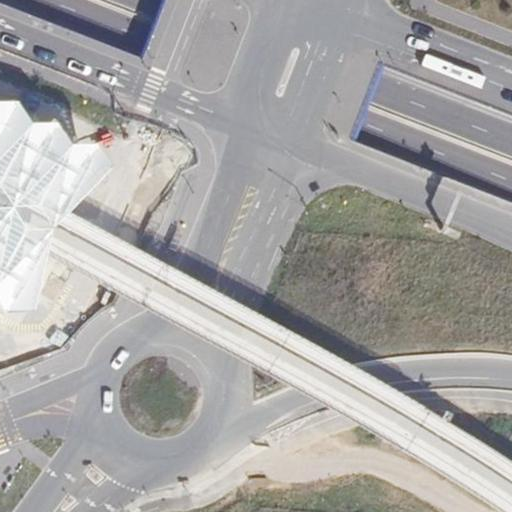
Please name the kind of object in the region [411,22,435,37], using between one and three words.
car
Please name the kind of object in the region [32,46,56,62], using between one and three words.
car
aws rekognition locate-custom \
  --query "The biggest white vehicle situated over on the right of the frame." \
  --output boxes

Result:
[421,52,485,88]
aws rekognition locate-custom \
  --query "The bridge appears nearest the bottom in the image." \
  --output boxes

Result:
[50,211,512,512]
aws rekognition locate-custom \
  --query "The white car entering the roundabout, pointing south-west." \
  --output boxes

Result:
[110,348,130,370]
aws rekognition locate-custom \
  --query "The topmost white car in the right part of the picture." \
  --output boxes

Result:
[407,36,430,51]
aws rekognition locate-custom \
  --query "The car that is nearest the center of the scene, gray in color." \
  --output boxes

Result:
[162,220,177,243]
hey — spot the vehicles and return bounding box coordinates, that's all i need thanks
[407,36,430,51]
[67,59,92,74]
[102,390,113,413]
[96,70,118,86]
[421,52,485,88]
[110,348,130,370]
[411,22,435,37]
[32,46,56,62]
[162,220,177,243]
[0,34,24,50]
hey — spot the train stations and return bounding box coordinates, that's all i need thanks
[0,98,112,309]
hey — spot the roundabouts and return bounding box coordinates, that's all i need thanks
[87,324,233,470]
